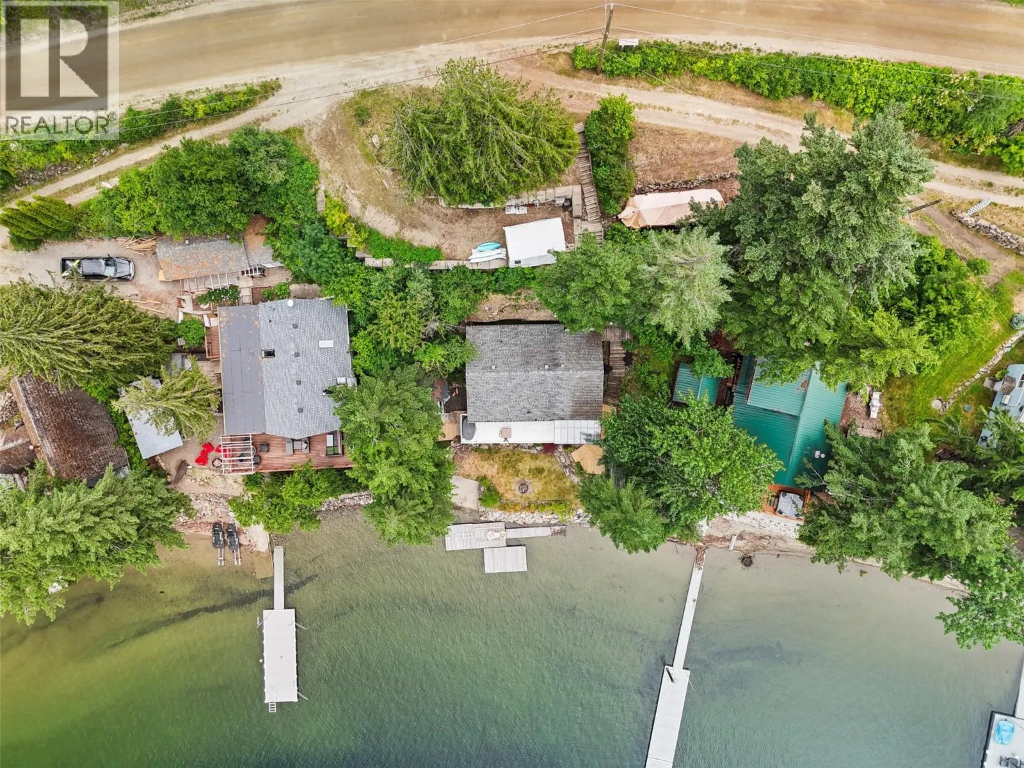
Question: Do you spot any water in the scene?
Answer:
Yes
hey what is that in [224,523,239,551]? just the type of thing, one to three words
boat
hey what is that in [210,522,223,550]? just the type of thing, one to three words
boat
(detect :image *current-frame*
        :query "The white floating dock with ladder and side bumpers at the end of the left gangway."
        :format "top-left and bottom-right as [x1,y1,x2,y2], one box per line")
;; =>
[256,608,308,703]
